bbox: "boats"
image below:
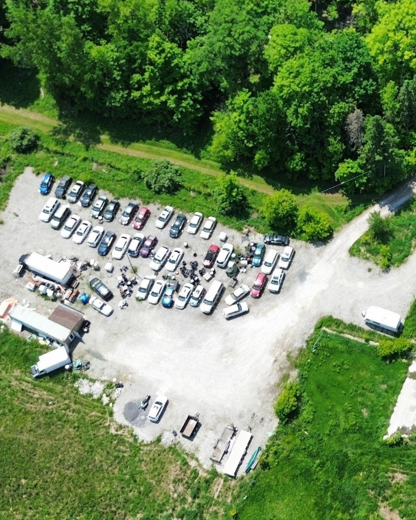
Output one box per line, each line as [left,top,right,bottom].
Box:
[247,448,260,473]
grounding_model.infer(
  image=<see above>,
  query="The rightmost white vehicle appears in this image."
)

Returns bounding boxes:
[360,306,401,333]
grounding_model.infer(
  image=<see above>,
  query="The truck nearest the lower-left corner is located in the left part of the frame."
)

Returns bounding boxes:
[31,346,71,379]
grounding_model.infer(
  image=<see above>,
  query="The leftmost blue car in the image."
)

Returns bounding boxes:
[39,175,53,195]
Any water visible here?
No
